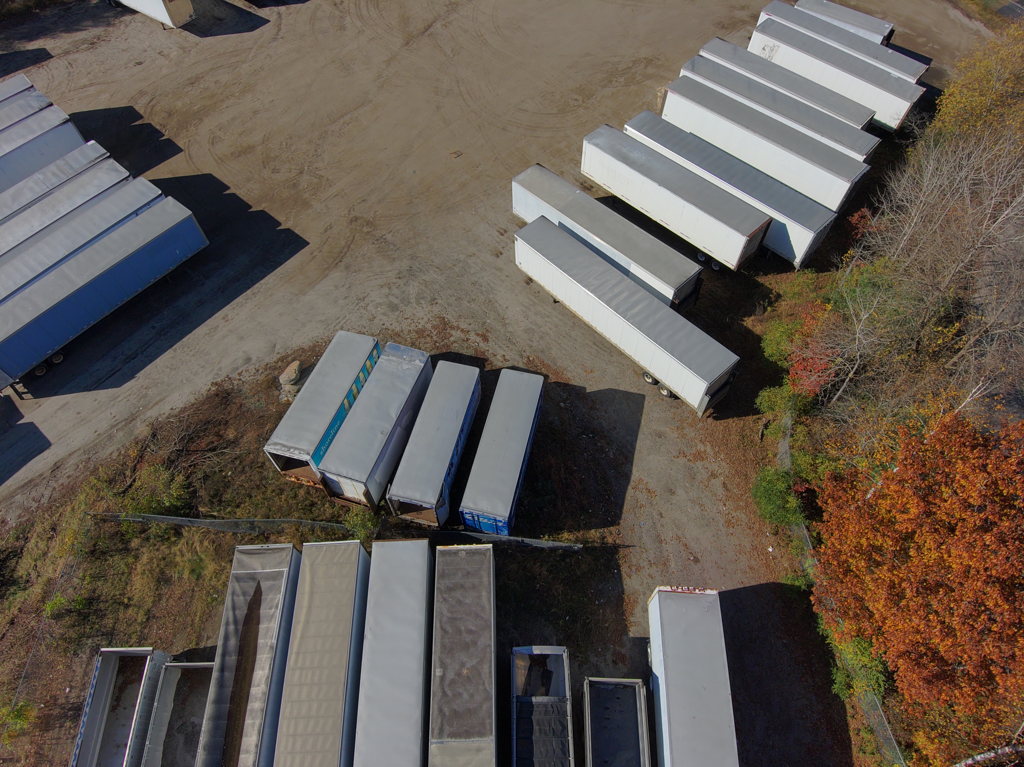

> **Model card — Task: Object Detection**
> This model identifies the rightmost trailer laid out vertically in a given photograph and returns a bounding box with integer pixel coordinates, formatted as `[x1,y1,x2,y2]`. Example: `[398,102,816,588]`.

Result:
[648,585,738,767]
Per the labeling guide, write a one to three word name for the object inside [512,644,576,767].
trailer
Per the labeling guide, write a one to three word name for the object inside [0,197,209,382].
trailer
